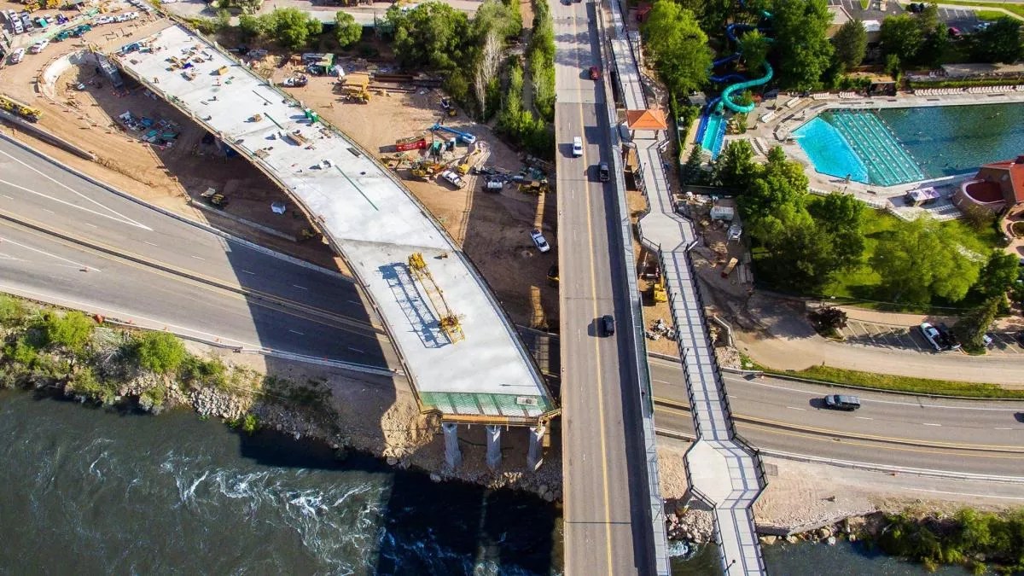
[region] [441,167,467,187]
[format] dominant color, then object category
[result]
white vehicle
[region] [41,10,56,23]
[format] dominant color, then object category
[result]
white vehicle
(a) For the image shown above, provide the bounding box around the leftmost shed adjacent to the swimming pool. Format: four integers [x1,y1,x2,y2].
[866,81,898,102]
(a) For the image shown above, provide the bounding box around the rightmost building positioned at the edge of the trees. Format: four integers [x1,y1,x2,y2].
[959,135,1024,221]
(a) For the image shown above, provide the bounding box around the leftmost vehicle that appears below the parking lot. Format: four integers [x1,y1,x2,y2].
[826,393,864,410]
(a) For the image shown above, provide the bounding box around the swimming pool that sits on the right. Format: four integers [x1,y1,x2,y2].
[791,101,1024,187]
